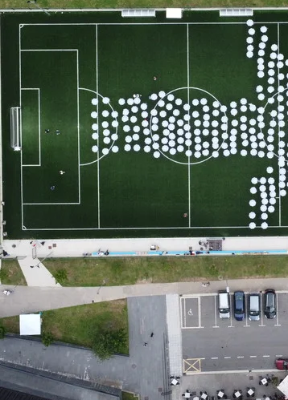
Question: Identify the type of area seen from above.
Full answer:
What you see here is a sports ground.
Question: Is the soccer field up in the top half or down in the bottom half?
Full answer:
The top half of the photo is where the soccer field is.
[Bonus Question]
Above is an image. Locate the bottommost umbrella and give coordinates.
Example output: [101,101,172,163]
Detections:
[275,377,288,398]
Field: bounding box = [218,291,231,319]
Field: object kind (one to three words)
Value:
vehicle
